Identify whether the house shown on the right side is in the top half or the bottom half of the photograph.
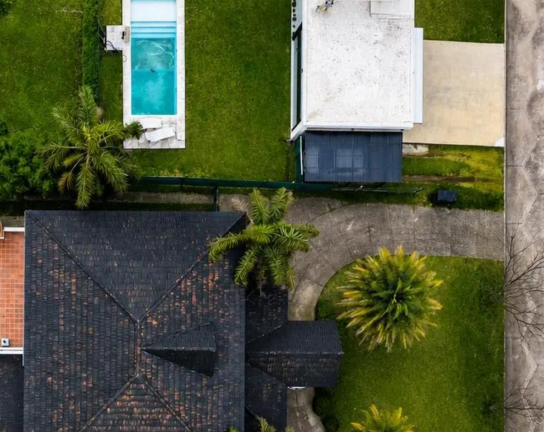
top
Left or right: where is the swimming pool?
left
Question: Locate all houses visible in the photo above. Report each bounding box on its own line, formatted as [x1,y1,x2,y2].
[0,208,344,432]
[290,0,422,187]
